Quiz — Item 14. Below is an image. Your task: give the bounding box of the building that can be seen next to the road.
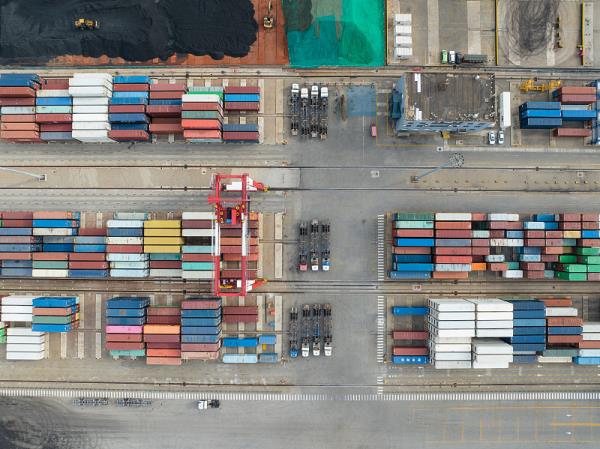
[386,73,497,138]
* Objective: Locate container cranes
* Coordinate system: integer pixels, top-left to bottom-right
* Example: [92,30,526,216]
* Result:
[206,176,271,294]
